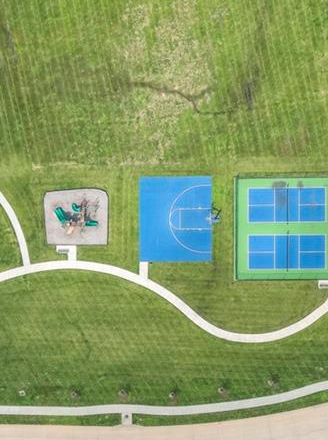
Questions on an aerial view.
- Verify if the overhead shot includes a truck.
No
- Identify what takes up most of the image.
grass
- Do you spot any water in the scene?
No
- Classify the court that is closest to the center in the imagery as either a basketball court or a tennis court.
basketball court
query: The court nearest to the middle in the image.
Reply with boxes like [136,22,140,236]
[139,177,212,261]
